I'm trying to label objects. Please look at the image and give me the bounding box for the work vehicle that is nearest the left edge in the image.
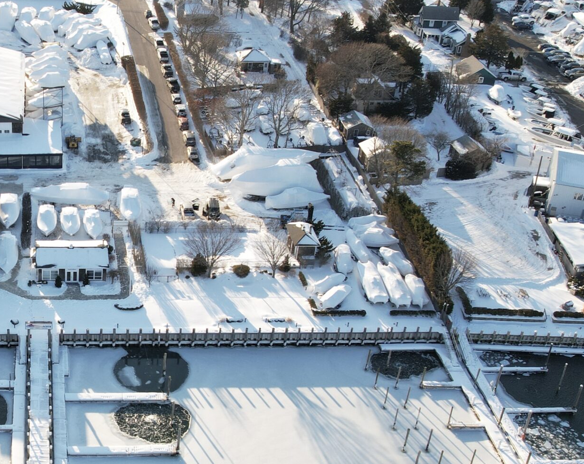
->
[63,132,81,150]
